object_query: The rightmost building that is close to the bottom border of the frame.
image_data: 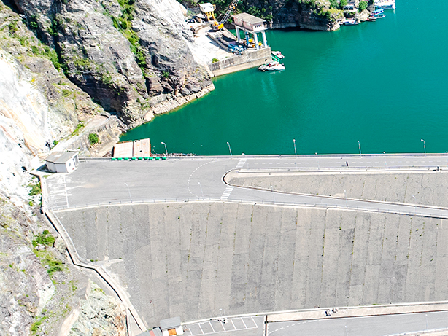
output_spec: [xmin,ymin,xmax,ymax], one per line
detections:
[158,313,182,336]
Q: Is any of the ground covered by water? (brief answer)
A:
Yes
